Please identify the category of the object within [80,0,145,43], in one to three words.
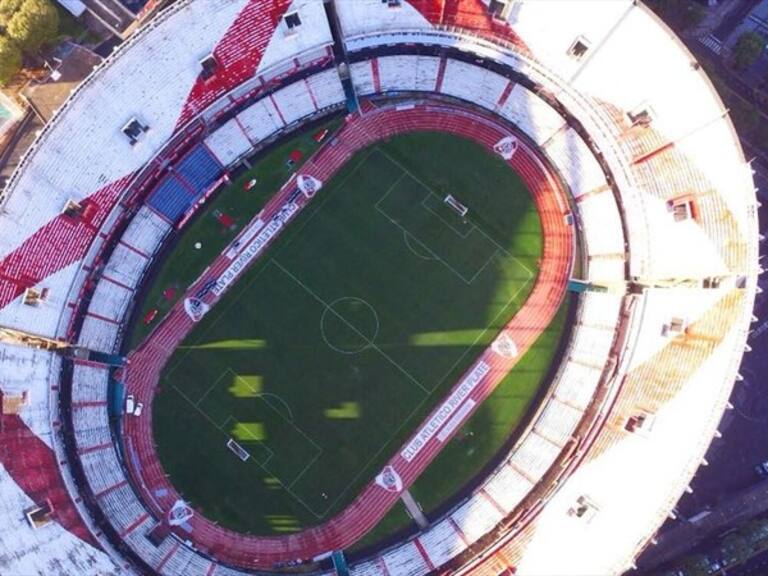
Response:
house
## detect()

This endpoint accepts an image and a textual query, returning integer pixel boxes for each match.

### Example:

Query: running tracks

[121,104,573,569]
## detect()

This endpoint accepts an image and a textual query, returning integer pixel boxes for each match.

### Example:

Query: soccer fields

[155,134,539,532]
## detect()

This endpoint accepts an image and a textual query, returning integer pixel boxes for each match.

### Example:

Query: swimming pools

[0,91,23,135]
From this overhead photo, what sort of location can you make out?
sports ground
